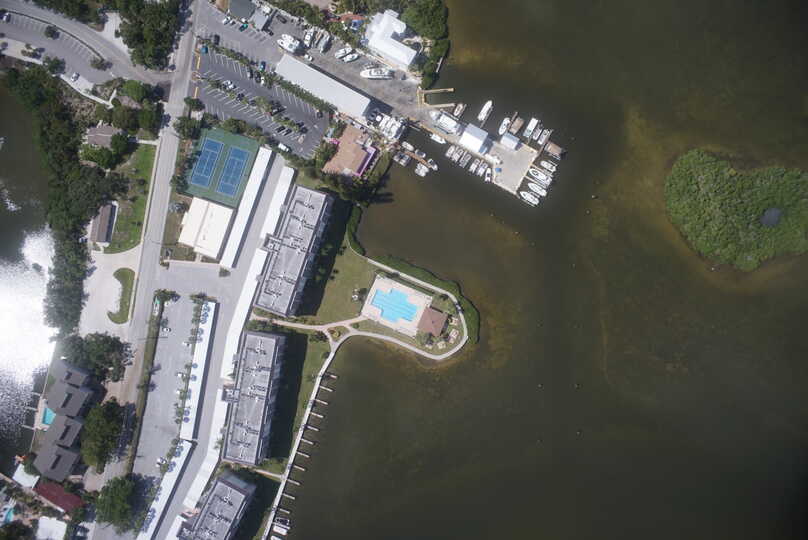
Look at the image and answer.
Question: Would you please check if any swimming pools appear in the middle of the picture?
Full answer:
Yes, you'll find a swimming pool in the middle of the picture.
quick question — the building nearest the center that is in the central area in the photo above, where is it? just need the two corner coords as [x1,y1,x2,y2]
[418,308,447,336]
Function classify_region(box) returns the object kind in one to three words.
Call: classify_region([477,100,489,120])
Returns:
boat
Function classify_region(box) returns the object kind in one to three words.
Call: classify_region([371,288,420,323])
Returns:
swimming pool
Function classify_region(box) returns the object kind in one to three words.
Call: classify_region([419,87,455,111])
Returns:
pier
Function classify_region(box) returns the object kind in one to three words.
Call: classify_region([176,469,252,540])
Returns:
building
